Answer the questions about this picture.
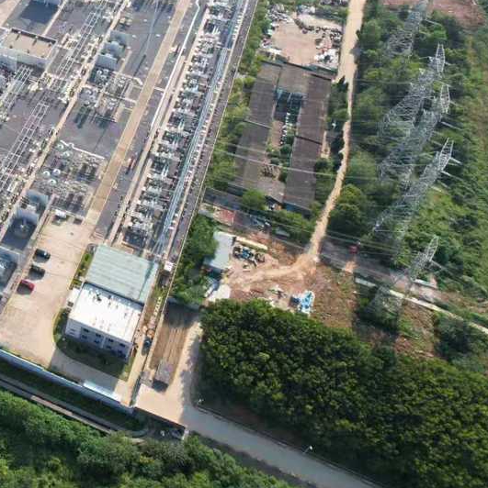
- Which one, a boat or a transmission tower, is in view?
transmission tower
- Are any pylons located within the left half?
No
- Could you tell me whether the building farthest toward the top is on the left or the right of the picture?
left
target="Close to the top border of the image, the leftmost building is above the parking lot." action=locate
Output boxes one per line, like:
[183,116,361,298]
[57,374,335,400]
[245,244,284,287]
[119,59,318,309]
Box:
[0,16,62,64]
